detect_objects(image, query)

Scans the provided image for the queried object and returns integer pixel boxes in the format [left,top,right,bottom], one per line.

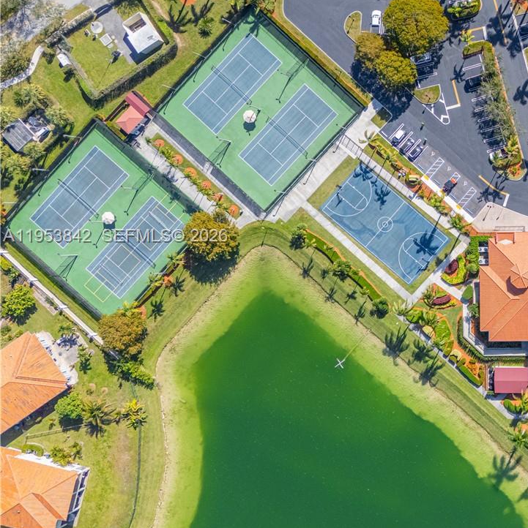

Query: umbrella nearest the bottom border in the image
[103,210,120,224]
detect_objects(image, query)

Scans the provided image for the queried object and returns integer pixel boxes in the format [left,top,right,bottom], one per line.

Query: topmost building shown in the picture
[122,11,168,53]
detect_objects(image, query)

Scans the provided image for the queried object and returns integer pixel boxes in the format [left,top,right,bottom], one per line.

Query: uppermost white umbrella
[243,110,259,123]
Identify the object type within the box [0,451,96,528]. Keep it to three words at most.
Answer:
house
